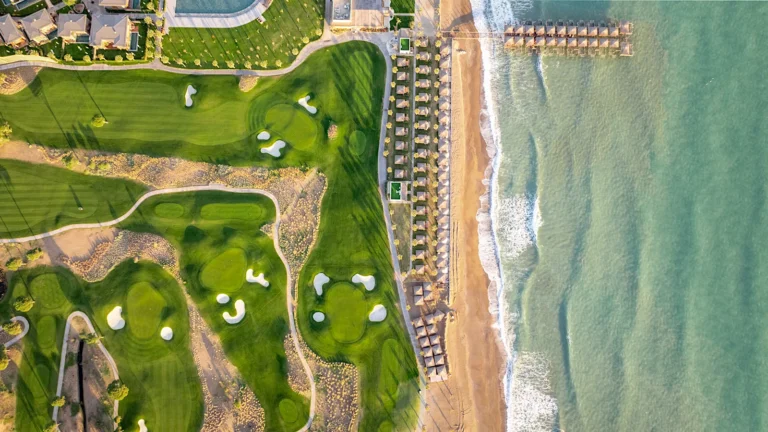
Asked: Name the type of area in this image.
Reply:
golf course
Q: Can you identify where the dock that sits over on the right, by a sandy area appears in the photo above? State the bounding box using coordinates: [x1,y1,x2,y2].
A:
[439,19,634,56]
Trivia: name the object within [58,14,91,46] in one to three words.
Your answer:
house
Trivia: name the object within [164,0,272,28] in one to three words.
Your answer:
swimming pool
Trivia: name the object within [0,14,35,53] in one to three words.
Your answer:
house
